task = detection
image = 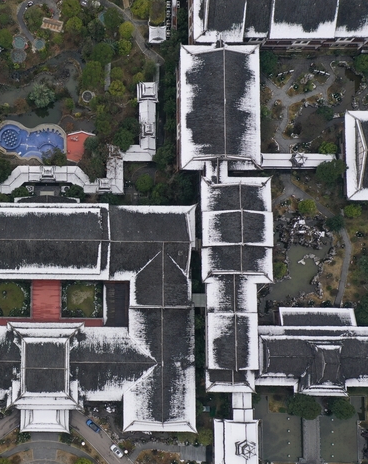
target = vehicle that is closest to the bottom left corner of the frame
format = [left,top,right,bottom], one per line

[86,417,100,433]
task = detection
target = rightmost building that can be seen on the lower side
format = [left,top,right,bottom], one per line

[255,308,368,398]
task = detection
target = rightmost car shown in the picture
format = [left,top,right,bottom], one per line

[109,442,124,459]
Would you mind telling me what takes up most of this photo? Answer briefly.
buildings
